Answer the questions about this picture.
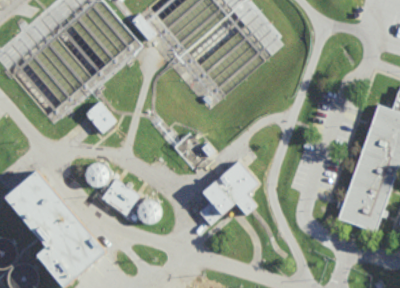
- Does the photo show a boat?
No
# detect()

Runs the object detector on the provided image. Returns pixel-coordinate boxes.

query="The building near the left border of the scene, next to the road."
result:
[6,172,106,288]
